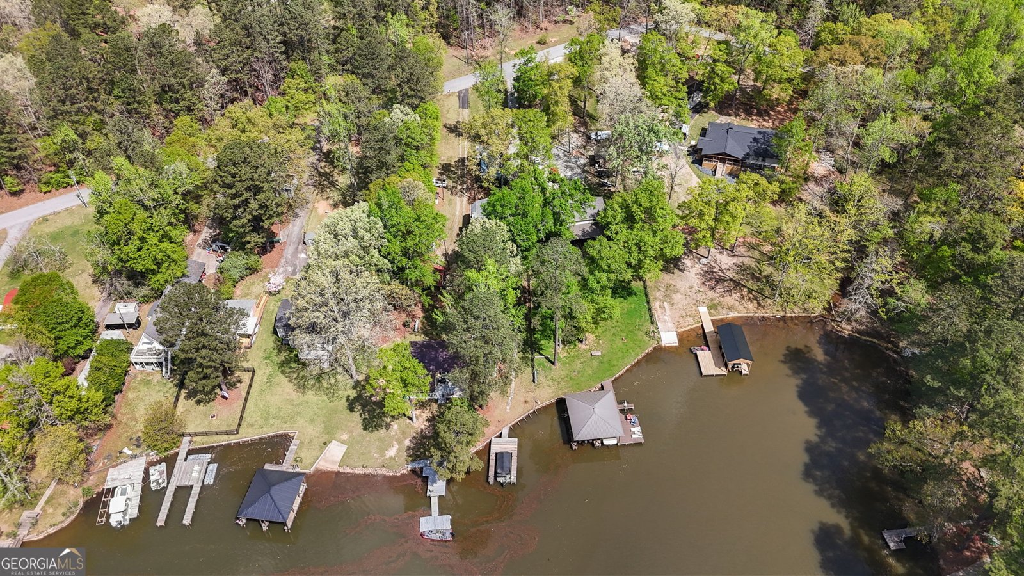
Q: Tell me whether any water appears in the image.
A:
Yes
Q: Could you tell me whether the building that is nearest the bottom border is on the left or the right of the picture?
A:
left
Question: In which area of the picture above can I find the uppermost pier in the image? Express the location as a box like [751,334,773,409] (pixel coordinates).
[695,321,728,378]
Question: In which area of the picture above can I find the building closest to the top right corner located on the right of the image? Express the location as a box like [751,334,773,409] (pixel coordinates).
[700,119,778,183]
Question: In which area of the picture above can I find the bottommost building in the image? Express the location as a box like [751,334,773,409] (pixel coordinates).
[237,469,310,540]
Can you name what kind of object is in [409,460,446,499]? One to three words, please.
pier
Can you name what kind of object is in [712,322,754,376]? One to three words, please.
building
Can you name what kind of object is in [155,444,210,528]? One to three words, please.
pier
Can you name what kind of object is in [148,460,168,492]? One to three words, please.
boat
